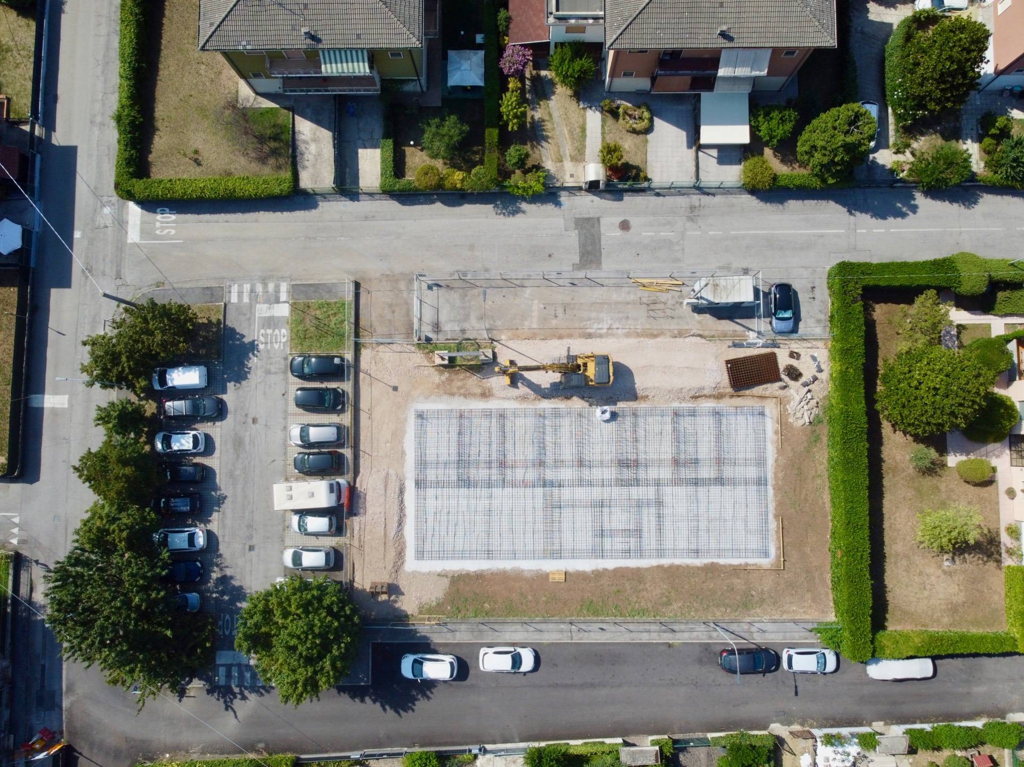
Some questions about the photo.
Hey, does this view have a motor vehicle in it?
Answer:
Yes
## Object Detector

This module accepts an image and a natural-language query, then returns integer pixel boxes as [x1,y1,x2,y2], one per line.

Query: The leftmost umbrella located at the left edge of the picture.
[0,219,25,253]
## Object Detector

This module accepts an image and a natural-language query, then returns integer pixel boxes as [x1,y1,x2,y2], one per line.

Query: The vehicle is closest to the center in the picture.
[497,347,617,390]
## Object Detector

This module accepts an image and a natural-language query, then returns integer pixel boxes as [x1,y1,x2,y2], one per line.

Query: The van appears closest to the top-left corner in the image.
[152,363,210,391]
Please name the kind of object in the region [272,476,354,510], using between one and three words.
van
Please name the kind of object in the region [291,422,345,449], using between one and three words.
car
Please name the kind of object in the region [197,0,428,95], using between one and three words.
house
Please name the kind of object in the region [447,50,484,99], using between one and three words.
gazebo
